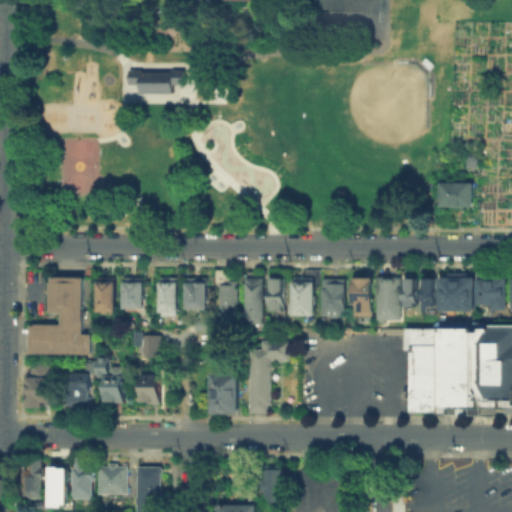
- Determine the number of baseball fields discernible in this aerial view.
1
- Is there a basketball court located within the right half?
No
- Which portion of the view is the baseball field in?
top right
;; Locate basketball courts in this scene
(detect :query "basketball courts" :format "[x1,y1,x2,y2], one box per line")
[62,138,100,196]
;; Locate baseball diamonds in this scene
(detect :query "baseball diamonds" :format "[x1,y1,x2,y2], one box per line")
[350,62,431,148]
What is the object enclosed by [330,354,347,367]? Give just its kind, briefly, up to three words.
vehicle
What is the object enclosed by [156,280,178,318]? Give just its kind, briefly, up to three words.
house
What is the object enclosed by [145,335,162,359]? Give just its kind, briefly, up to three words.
building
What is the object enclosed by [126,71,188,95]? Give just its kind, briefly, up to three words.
building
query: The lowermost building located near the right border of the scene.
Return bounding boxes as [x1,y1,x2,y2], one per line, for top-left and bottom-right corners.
[403,326,512,414]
